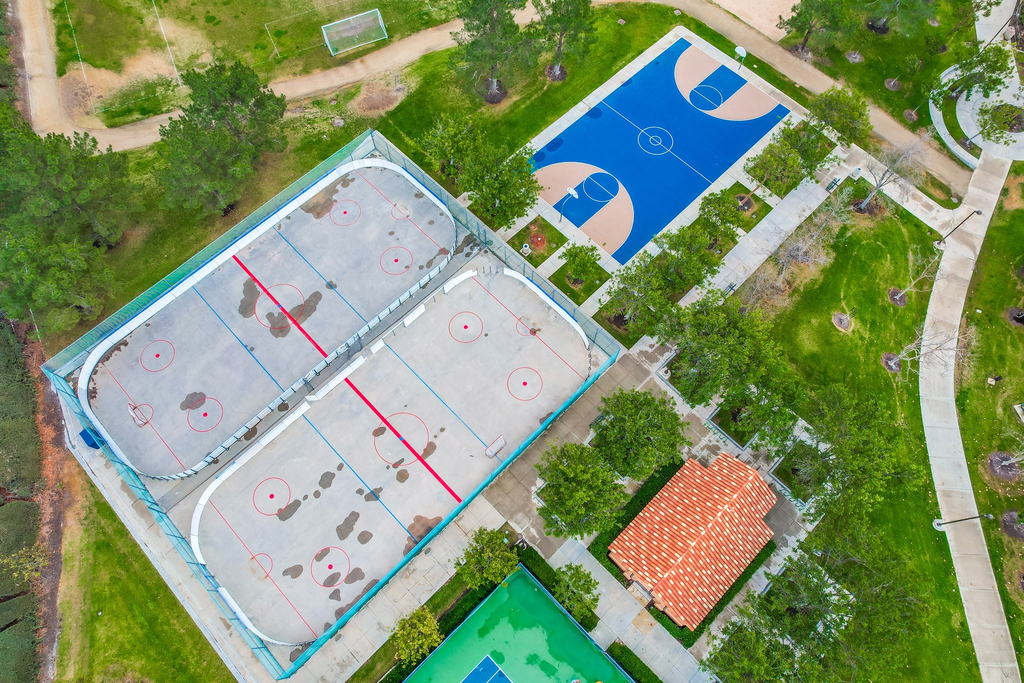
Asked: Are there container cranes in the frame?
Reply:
No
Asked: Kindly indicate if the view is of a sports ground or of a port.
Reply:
sports ground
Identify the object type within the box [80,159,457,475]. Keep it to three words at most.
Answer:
sports court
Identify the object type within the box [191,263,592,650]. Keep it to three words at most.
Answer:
sports court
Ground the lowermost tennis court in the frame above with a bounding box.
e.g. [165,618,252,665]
[408,564,631,683]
